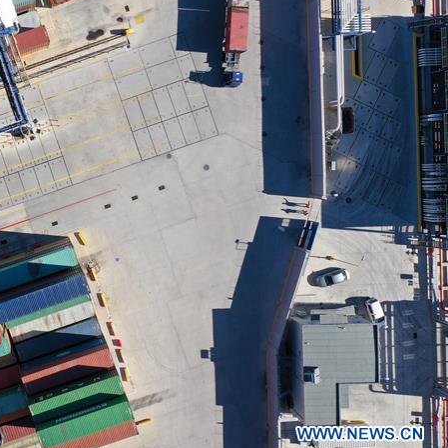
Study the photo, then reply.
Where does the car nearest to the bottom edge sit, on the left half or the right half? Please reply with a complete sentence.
It is on the right.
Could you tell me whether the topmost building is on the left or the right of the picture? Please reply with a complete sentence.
It is on the right.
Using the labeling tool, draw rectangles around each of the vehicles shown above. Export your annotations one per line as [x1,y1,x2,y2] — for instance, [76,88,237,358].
[220,40,244,90]
[317,267,350,285]
[361,295,387,326]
